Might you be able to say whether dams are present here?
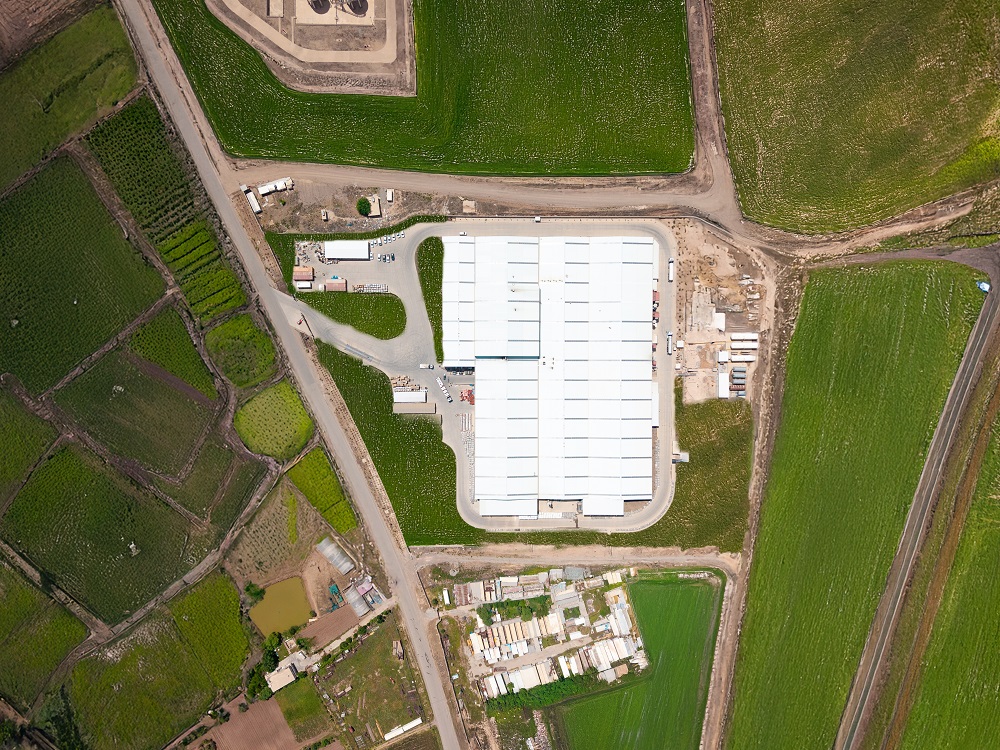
No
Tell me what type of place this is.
farmland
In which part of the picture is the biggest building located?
center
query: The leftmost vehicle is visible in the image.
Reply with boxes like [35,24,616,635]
[241,185,258,211]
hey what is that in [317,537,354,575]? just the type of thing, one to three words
greenhouse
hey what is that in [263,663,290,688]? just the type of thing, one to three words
house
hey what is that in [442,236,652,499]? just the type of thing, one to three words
building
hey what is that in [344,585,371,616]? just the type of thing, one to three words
greenhouse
